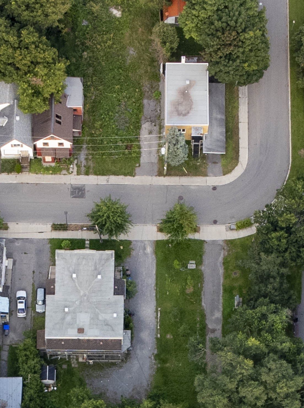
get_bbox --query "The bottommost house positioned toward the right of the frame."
[164,53,225,160]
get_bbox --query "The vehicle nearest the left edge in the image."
[14,290,28,318]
